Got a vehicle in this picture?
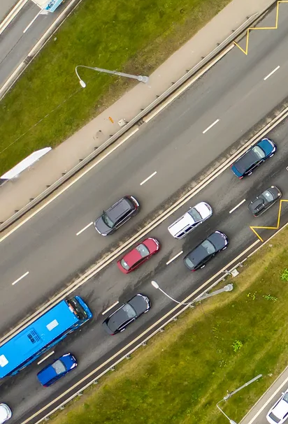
Yes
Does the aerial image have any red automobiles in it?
Yes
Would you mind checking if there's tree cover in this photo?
No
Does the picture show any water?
No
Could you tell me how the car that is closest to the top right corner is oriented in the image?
at an angle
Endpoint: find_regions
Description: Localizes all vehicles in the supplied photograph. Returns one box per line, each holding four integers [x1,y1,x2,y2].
[104,293,154,335]
[248,185,284,219]
[0,402,16,424]
[183,231,229,272]
[33,0,71,16]
[230,138,277,180]
[166,200,214,239]
[94,193,143,236]
[0,297,99,393]
[117,236,163,274]
[265,388,288,424]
